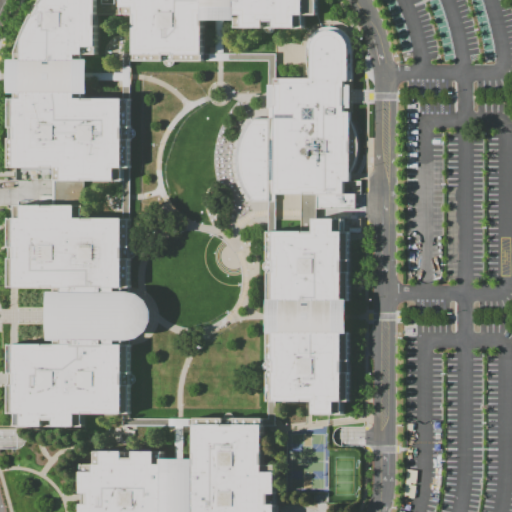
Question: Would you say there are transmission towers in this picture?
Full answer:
No, I can't see a single transmission tower in this photo.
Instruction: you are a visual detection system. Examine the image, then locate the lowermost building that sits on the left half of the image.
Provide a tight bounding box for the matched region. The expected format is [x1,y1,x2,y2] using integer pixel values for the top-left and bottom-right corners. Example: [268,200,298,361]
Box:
[76,414,277,512]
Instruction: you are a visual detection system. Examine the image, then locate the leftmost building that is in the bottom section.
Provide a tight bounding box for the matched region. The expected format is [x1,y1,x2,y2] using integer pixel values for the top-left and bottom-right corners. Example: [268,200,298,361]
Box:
[5,205,154,427]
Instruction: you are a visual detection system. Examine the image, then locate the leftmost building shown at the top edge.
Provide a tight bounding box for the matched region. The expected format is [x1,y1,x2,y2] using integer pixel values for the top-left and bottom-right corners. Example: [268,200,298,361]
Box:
[4,0,130,201]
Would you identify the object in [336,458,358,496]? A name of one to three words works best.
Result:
sports court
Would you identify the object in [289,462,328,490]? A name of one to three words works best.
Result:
basketball court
